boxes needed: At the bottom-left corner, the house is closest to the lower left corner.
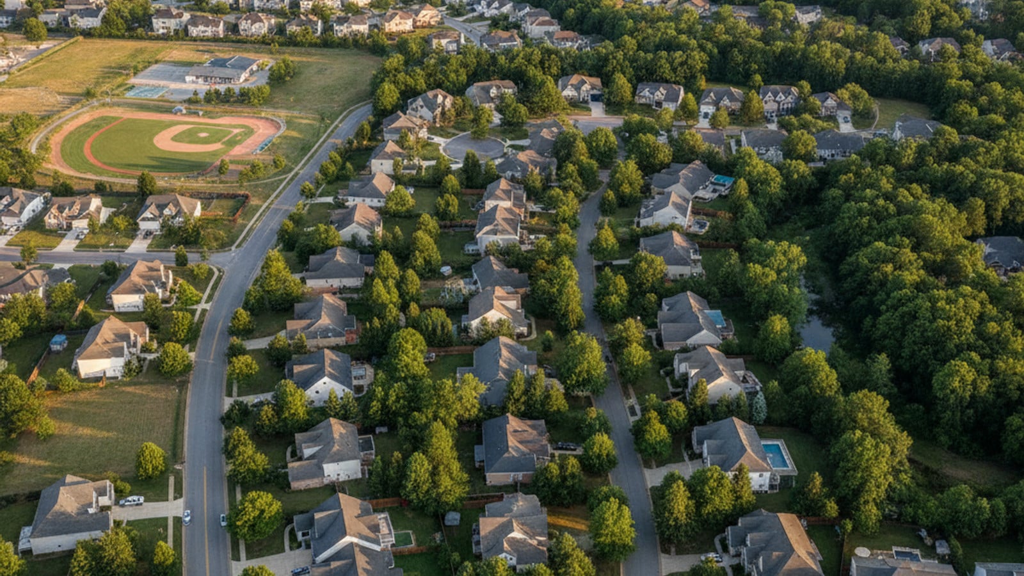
[31,470,125,549]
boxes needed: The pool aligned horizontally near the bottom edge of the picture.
[892,547,921,559]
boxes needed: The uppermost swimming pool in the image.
[710,176,735,189]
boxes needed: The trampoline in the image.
[852,545,872,560]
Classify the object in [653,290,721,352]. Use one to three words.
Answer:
house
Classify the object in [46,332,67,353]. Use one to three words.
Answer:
shed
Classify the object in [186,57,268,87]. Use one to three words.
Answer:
building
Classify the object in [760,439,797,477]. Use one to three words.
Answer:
swimming pool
